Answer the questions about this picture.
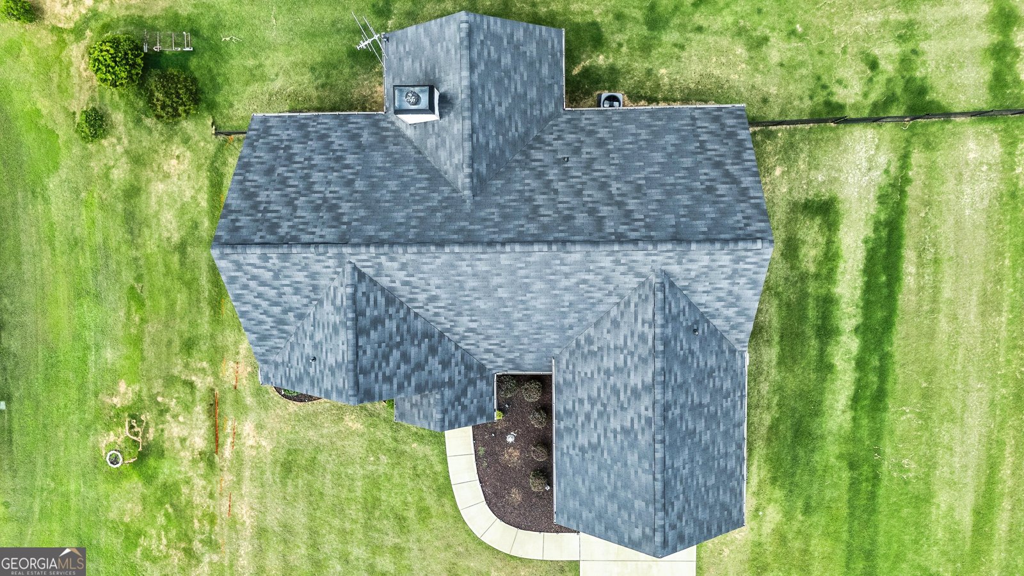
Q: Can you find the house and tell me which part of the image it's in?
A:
center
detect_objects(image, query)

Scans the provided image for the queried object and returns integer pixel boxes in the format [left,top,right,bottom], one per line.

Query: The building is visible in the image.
[214,11,773,556]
